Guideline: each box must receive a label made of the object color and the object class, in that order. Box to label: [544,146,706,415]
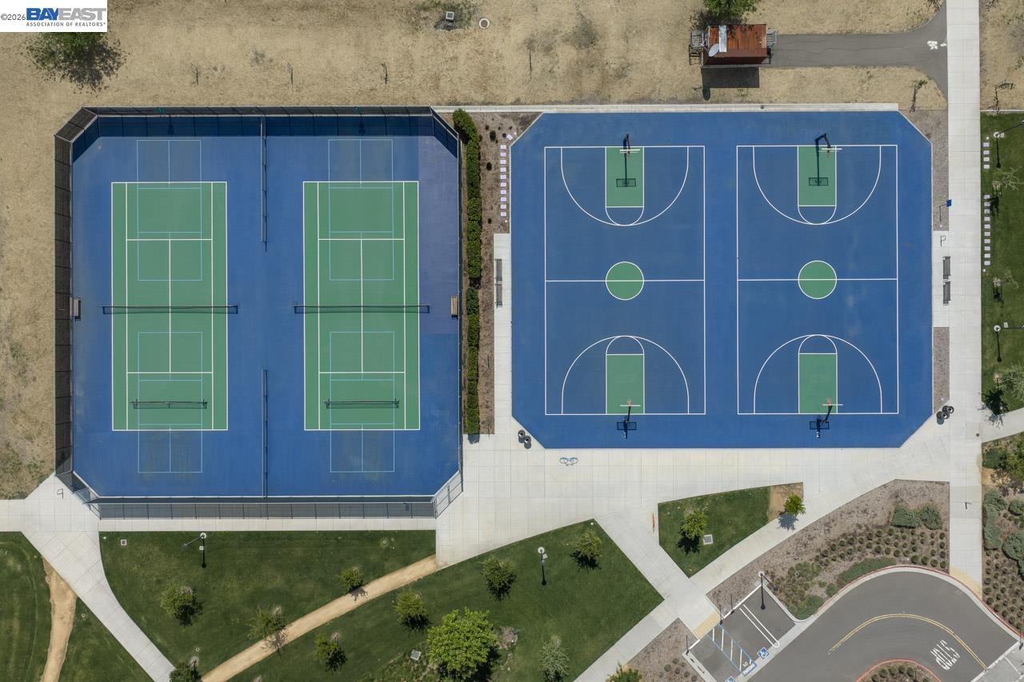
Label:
blue basketball court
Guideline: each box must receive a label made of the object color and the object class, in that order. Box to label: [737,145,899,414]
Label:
blue basketball court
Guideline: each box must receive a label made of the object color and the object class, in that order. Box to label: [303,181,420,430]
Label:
green tennis court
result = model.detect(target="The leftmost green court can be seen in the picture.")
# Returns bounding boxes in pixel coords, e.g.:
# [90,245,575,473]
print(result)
[112,181,228,431]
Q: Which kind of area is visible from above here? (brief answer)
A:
sports ground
